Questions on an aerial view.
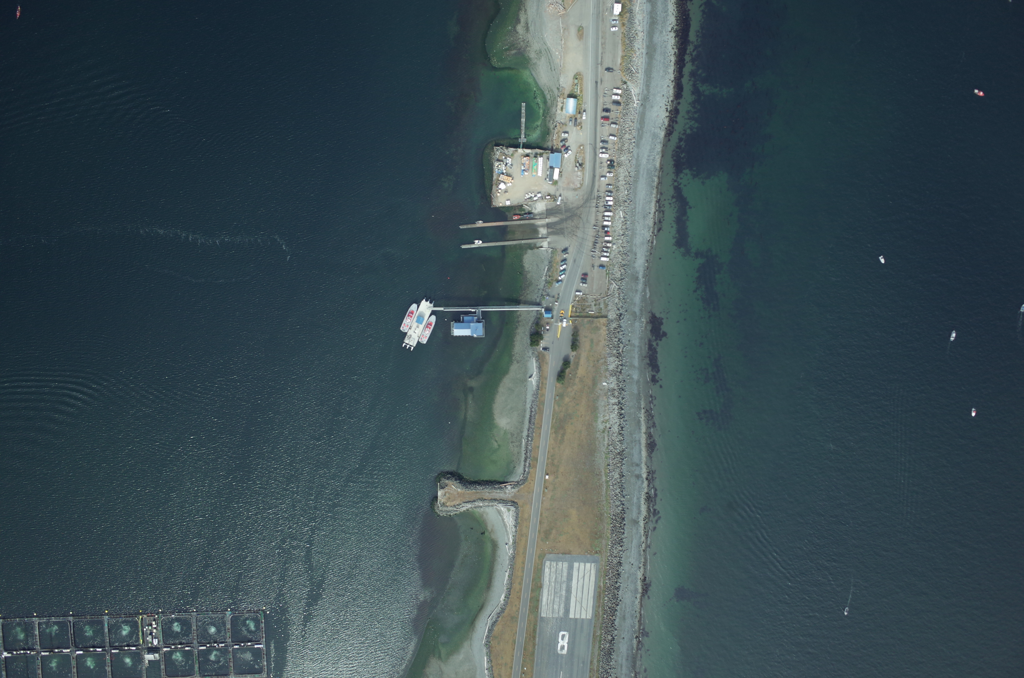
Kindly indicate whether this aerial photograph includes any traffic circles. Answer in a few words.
No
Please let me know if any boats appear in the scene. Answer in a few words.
Yes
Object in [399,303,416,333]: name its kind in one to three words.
boat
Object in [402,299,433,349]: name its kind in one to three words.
ship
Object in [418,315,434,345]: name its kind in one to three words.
boat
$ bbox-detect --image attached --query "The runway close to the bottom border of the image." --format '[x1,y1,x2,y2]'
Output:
[534,554,600,678]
